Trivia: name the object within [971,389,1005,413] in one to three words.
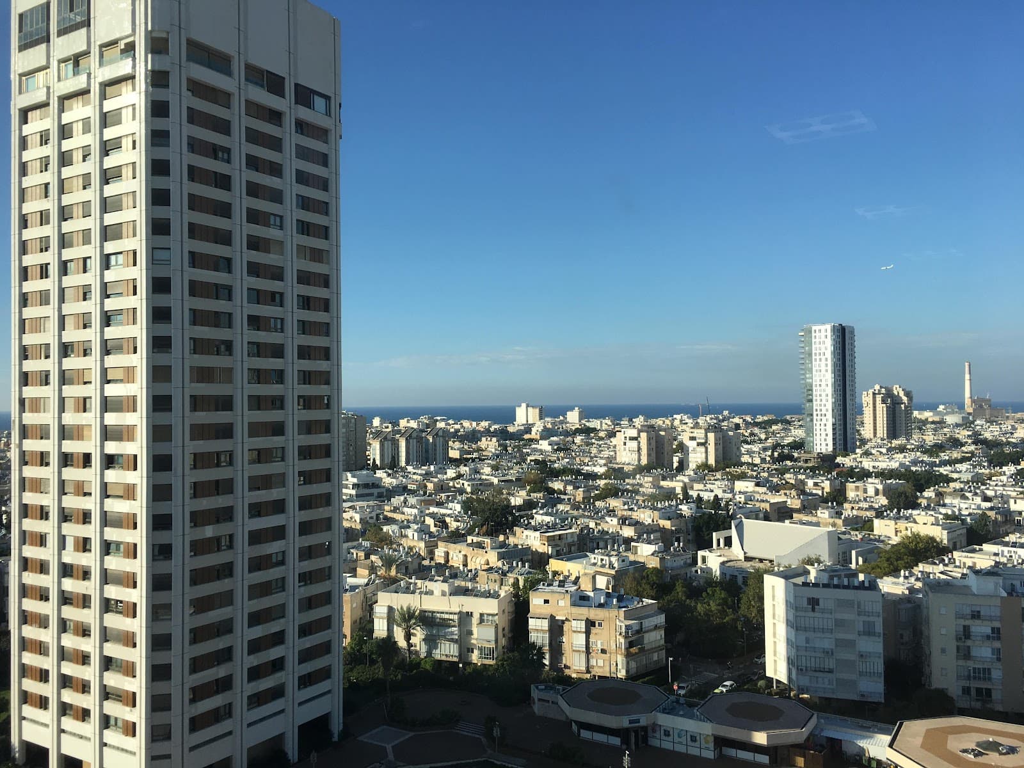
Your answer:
building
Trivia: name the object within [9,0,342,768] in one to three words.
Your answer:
building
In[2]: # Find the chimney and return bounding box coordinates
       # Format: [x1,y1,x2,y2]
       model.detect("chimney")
[964,361,976,412]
